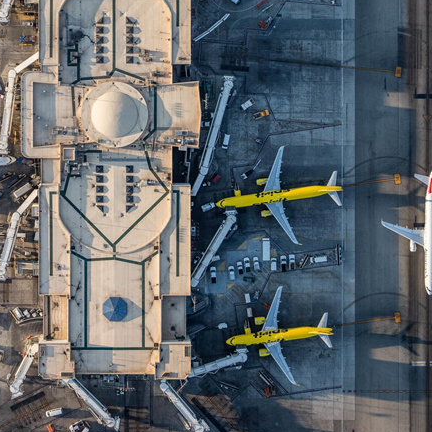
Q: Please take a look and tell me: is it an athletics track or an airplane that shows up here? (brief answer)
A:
airplane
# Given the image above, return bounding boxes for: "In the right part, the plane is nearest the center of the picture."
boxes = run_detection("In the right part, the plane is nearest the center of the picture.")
[216,143,344,248]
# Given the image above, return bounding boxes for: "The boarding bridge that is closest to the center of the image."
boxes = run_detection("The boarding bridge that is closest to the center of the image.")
[191,205,240,288]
